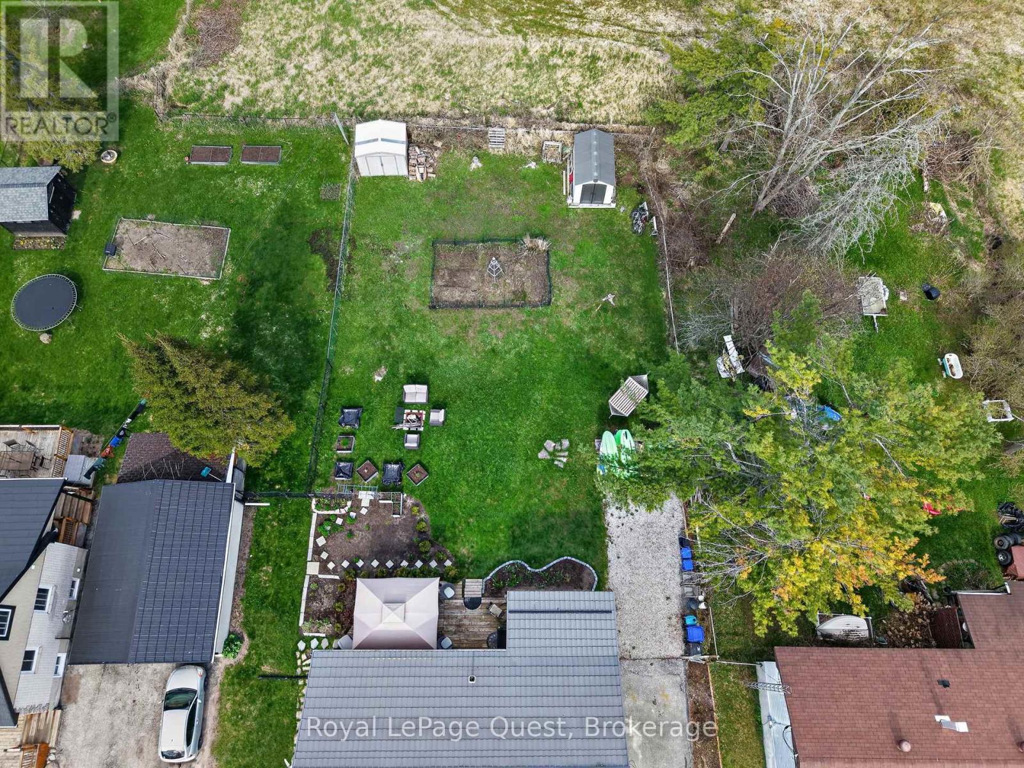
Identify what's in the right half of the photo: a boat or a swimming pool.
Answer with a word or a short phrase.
boat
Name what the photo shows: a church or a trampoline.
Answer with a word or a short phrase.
trampoline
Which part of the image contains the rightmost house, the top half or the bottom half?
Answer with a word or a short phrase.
bottom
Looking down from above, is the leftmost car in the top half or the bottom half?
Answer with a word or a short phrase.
bottom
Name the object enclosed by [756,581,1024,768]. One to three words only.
house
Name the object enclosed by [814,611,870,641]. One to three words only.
boat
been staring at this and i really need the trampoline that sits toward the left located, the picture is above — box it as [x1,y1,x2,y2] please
[8,272,89,342]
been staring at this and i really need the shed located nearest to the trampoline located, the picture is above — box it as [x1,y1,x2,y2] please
[0,165,78,237]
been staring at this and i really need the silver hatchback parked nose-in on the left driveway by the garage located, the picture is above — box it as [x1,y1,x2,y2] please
[156,663,212,766]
